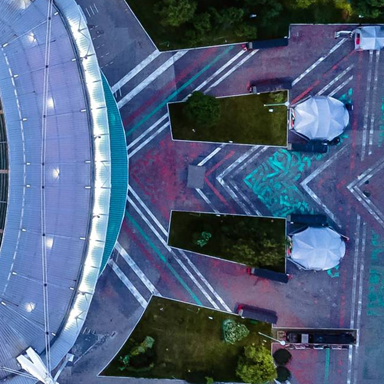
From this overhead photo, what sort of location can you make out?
sports ground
